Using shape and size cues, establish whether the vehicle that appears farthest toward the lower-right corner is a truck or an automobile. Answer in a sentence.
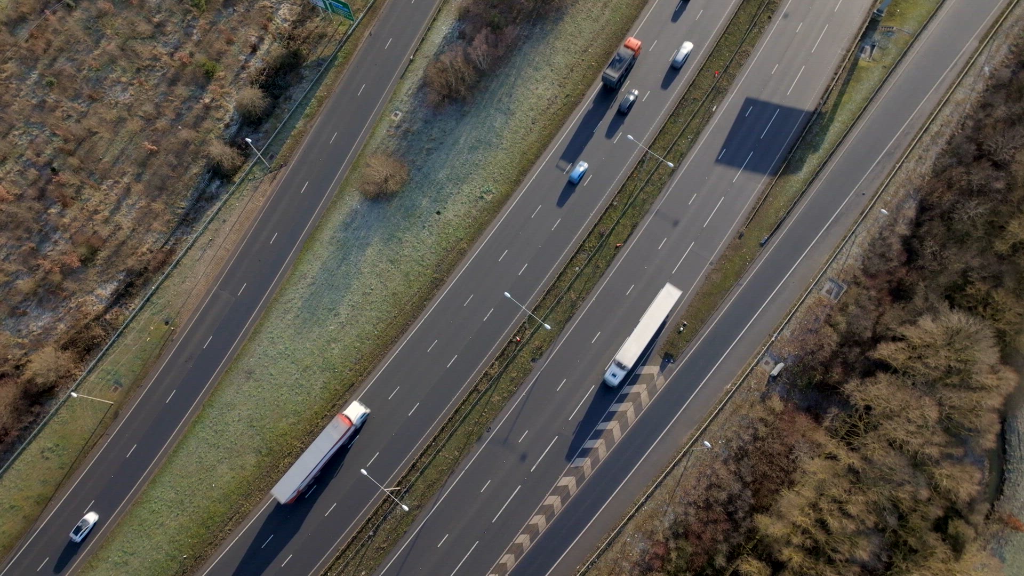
In the photo, the vehicle that appears farthest toward the lower-right corner shows up as a truck.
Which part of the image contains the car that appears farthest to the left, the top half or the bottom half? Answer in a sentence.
The bottom half of the photo is where the car that appears farthest to the left is.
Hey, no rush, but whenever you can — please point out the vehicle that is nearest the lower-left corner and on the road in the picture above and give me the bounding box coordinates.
[70,511,100,545]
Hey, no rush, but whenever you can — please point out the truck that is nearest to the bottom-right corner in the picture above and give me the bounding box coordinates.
[601,283,682,388]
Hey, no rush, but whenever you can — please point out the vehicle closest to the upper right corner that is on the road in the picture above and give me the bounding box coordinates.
[671,44,693,70]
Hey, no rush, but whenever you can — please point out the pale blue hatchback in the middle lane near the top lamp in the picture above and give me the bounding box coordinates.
[569,161,588,185]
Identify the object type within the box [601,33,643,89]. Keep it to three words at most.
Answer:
truck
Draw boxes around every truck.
[601,283,682,388]
[272,396,371,502]
[601,33,643,89]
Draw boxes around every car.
[70,511,100,545]
[569,161,588,185]
[618,89,639,115]
[671,44,693,70]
